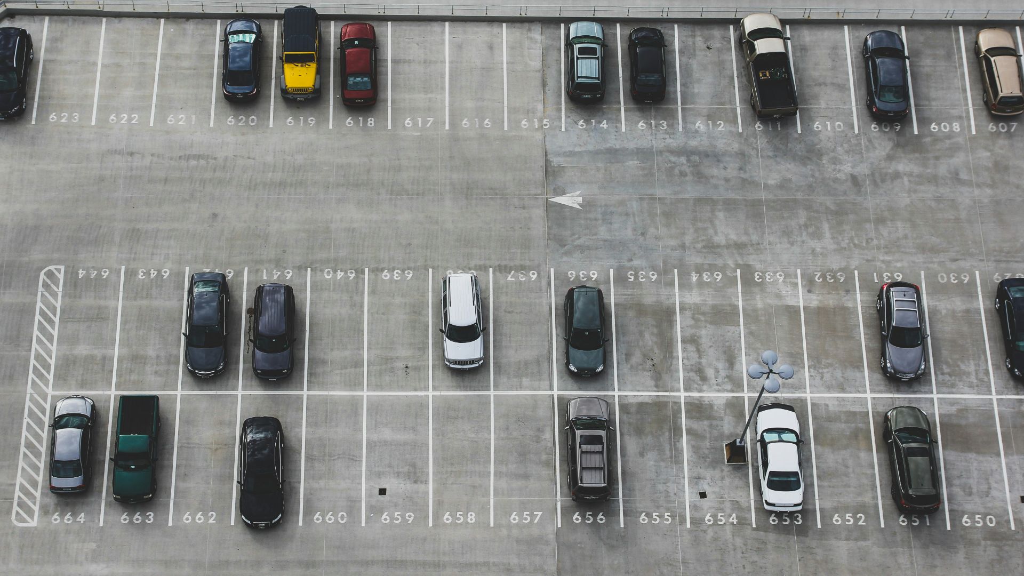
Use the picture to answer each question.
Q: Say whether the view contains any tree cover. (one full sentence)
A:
No, the scene doesn't show any tree cover.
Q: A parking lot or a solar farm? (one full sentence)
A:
This looks like a parking lot.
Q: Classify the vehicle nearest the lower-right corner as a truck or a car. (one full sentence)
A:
Looking closely, the vehicle nearest the lower-right corner is a car.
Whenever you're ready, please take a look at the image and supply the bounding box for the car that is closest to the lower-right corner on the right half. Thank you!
[884,406,943,511]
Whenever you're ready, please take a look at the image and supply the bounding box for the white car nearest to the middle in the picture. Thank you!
[437,273,489,370]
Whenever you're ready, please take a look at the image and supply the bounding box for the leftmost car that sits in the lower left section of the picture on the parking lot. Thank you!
[46,396,97,492]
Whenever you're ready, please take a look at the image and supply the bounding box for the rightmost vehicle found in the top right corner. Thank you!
[976,29,1024,114]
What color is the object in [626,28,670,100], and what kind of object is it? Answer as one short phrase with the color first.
black car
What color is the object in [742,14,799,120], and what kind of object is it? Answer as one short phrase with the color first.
black truck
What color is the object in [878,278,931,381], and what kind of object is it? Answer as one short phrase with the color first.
gray car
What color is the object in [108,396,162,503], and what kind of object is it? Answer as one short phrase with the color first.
black truck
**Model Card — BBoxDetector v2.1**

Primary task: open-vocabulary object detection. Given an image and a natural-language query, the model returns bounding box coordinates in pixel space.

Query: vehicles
[863,31,912,116]
[181,271,231,378]
[884,406,943,511]
[279,4,322,100]
[437,273,489,370]
[997,280,1024,381]
[218,20,264,100]
[108,396,162,503]
[0,29,35,119]
[247,282,299,381]
[755,404,805,511]
[742,14,799,120]
[878,278,931,381]
[626,28,670,100]
[563,22,611,101]
[561,283,611,378]
[235,415,288,530]
[976,29,1024,114]
[335,24,379,104]
[564,399,617,500]
[46,396,97,492]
